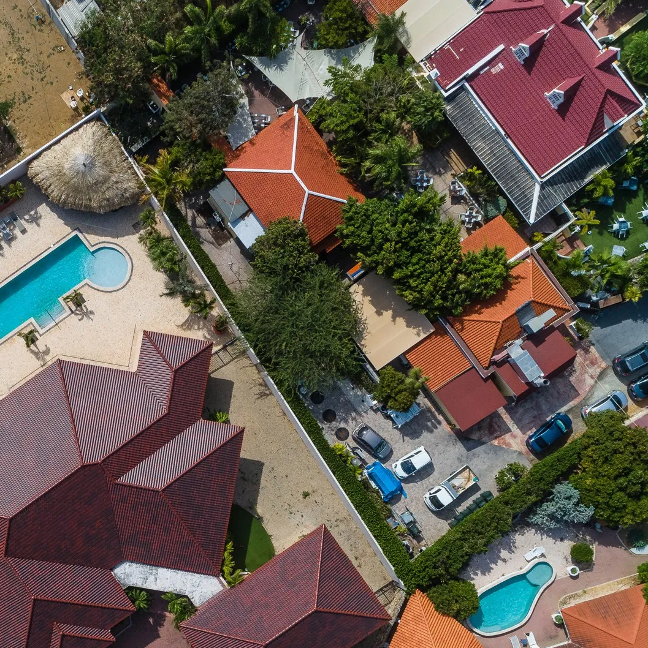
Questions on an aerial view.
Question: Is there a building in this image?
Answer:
Yes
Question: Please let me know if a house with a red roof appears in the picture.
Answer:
Yes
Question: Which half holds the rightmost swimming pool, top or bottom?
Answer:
bottom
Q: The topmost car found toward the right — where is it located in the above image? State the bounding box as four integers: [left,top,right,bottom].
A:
[607,340,648,380]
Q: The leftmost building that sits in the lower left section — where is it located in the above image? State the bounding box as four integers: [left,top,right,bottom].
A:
[0,330,246,648]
